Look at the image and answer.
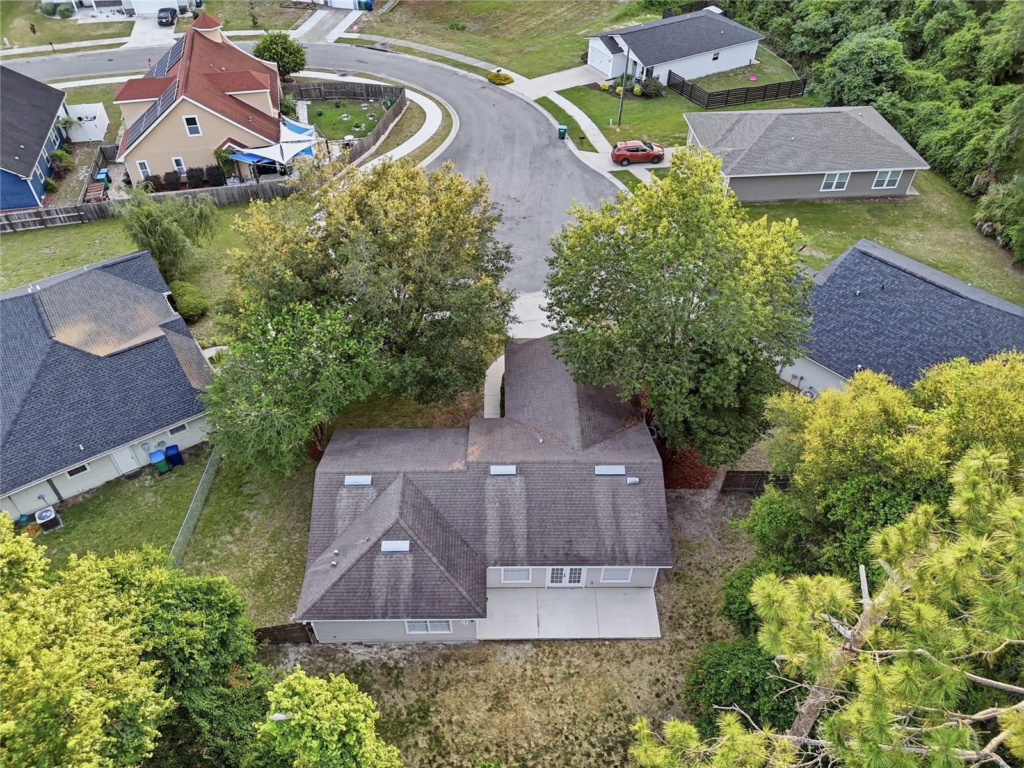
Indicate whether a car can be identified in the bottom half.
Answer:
No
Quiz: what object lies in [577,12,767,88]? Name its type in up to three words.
house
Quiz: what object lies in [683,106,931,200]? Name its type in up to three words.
house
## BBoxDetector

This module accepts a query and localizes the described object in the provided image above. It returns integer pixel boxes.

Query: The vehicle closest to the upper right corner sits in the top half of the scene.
[614,140,665,165]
